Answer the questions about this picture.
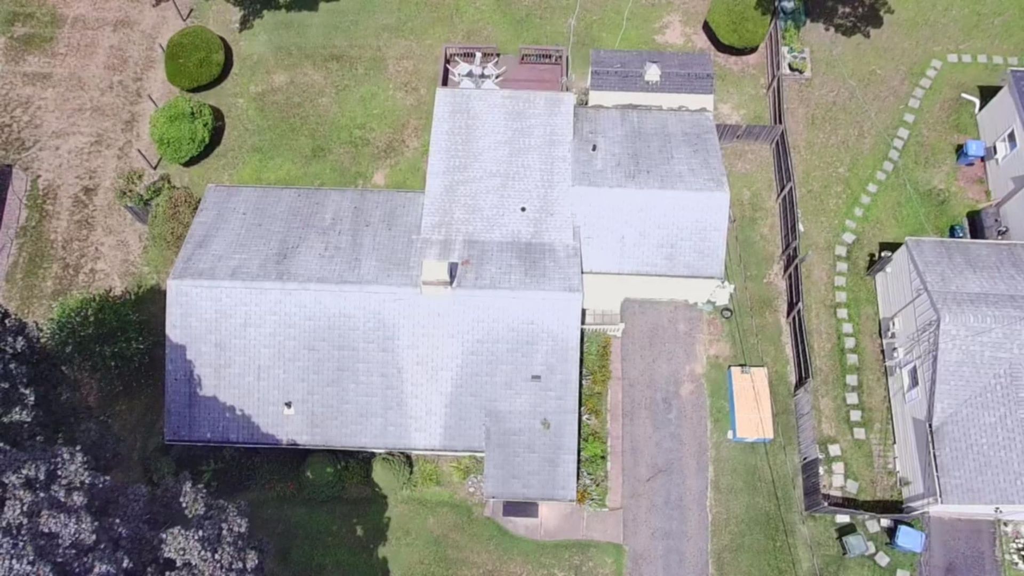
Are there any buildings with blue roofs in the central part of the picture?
No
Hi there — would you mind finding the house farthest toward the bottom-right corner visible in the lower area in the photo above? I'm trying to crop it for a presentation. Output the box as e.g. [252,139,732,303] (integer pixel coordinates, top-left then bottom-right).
[880,236,1024,519]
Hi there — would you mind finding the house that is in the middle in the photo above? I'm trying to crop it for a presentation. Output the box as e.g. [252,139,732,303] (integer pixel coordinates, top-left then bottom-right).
[163,87,729,505]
